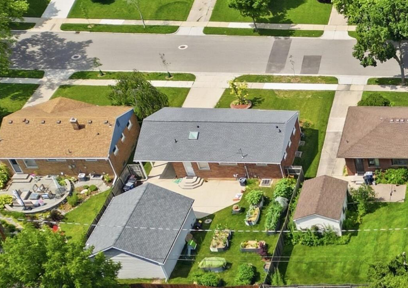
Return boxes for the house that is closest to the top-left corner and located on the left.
[0,89,141,180]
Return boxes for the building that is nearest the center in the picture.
[133,108,302,184]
